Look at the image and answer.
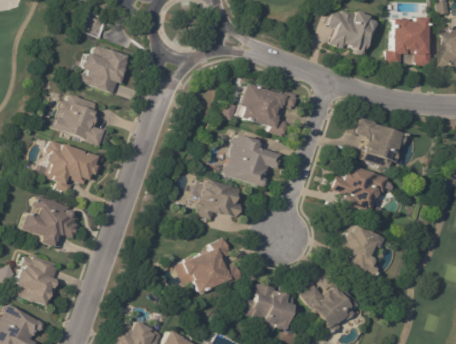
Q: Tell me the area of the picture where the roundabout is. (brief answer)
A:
top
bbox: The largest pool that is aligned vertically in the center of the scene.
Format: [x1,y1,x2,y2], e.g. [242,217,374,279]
[176,174,189,200]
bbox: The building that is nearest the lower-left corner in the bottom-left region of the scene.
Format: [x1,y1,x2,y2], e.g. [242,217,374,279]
[0,306,44,344]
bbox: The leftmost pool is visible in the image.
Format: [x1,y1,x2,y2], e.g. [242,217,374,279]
[28,143,42,163]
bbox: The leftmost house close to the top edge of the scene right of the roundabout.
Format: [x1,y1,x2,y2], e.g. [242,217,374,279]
[326,9,378,53]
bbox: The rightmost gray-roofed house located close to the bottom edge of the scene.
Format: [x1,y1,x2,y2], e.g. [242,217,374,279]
[298,284,358,330]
